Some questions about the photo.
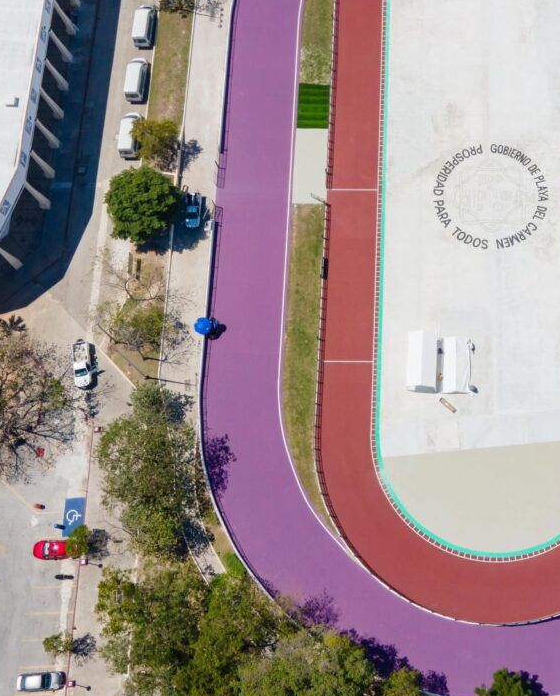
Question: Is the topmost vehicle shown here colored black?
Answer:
No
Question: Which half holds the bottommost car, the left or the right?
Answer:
left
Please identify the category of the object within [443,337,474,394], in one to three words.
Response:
tent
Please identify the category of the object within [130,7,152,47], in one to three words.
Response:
vehicle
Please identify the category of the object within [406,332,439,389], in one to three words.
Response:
tent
